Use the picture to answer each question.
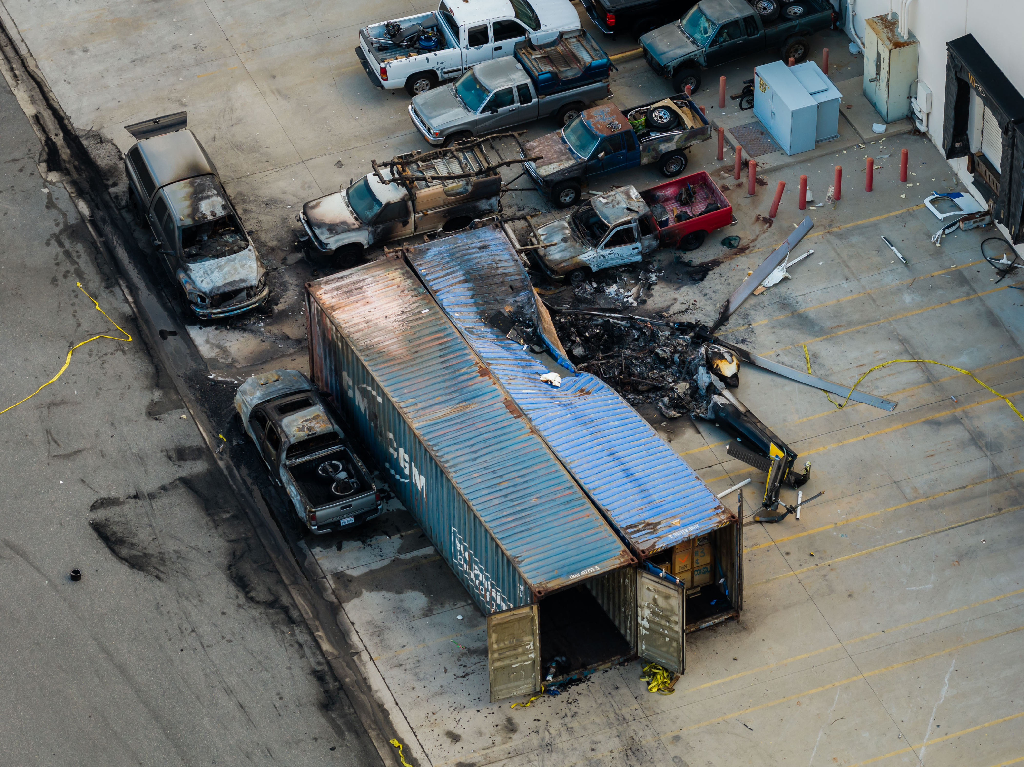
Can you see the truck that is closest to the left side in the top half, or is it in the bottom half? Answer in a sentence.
The truck that is closest to the left side is in the top half of the image.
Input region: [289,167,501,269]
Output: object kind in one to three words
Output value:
truck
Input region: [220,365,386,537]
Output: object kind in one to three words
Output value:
truck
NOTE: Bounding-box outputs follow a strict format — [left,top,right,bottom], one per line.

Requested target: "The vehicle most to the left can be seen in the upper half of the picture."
[128,98,271,313]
